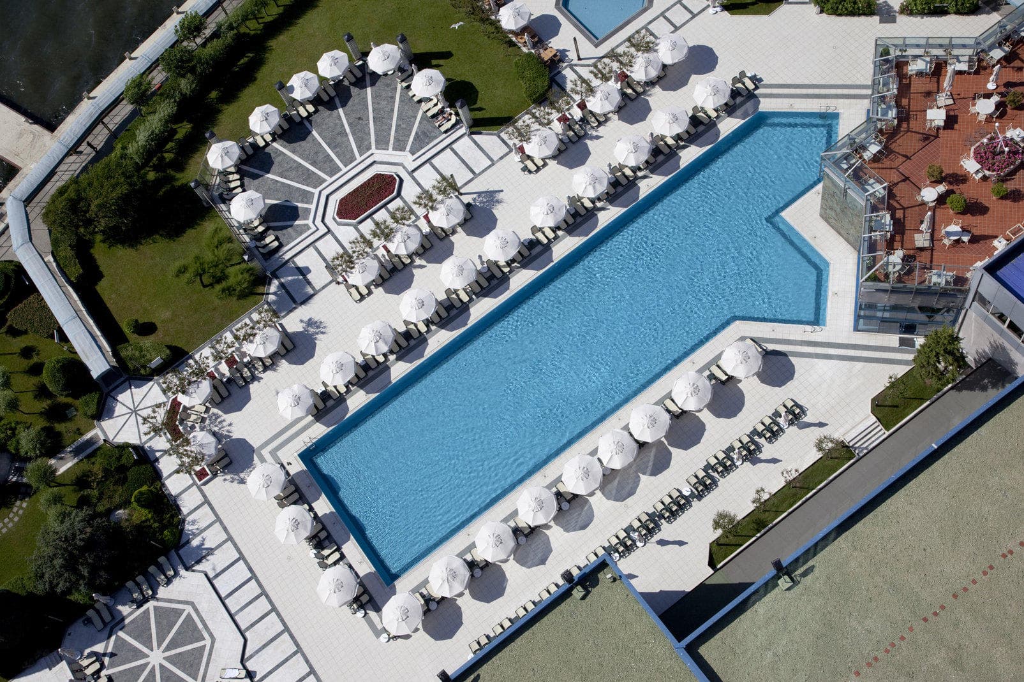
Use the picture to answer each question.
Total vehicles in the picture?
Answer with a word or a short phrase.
0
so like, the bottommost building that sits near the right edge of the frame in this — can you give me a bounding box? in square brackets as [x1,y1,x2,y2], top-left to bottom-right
[679,368,1024,682]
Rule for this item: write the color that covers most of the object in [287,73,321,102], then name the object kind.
white umbrella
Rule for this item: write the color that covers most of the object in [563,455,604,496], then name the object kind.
white umbrella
